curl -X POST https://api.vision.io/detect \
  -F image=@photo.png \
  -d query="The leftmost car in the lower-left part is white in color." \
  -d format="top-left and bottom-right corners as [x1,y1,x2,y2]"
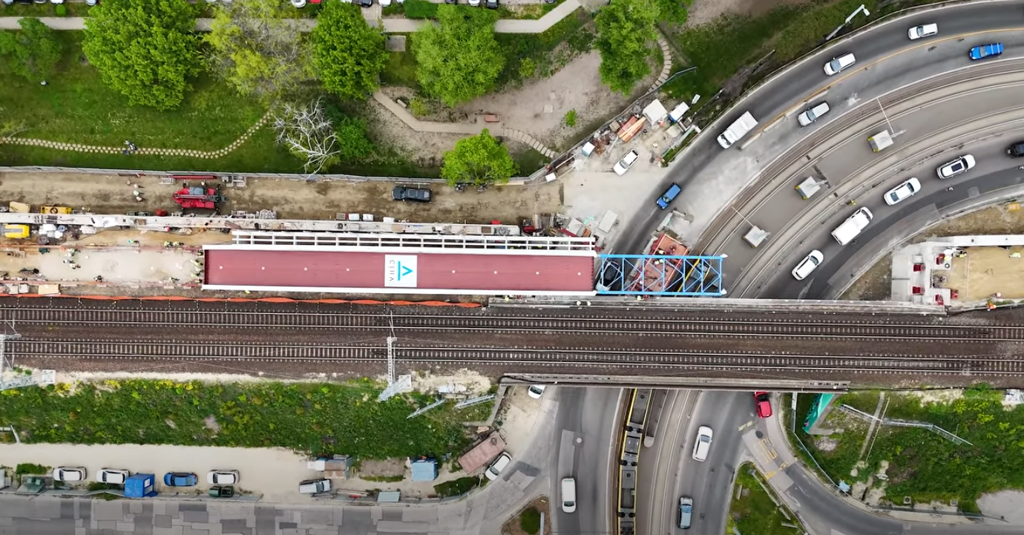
[55,464,88,482]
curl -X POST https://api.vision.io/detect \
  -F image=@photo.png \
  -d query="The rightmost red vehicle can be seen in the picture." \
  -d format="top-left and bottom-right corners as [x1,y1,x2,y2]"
[752,392,772,421]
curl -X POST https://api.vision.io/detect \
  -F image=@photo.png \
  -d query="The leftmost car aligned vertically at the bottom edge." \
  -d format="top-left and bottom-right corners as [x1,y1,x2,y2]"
[560,475,577,511]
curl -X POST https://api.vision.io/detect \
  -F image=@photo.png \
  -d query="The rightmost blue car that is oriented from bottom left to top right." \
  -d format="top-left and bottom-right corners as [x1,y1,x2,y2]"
[655,181,682,210]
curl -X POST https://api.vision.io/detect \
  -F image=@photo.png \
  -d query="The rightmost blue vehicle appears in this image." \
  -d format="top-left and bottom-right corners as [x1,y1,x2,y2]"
[966,41,1005,61]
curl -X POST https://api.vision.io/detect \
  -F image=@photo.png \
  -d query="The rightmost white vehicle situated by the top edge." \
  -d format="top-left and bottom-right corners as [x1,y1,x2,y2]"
[902,21,941,42]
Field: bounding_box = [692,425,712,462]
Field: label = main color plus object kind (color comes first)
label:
white car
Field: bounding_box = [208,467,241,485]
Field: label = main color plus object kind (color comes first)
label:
white car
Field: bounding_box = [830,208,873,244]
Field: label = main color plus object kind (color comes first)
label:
white van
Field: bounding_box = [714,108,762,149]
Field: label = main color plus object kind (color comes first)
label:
white truck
